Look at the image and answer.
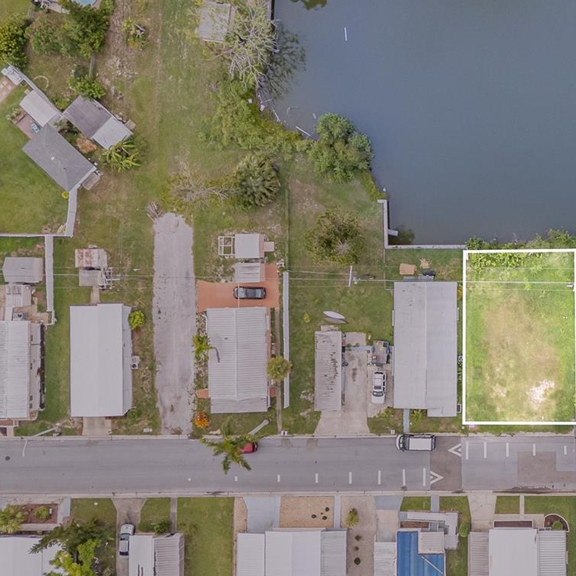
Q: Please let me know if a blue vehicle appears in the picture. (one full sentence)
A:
No, the scene contains no blue vehicle.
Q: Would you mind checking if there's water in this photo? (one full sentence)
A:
Yes, some water is visible.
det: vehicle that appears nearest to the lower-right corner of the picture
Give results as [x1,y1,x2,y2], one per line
[397,433,437,451]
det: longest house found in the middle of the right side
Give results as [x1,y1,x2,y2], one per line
[394,276,460,416]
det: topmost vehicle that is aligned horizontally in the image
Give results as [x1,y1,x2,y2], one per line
[233,284,267,300]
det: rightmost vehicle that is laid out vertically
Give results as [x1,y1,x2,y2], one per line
[371,369,387,405]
